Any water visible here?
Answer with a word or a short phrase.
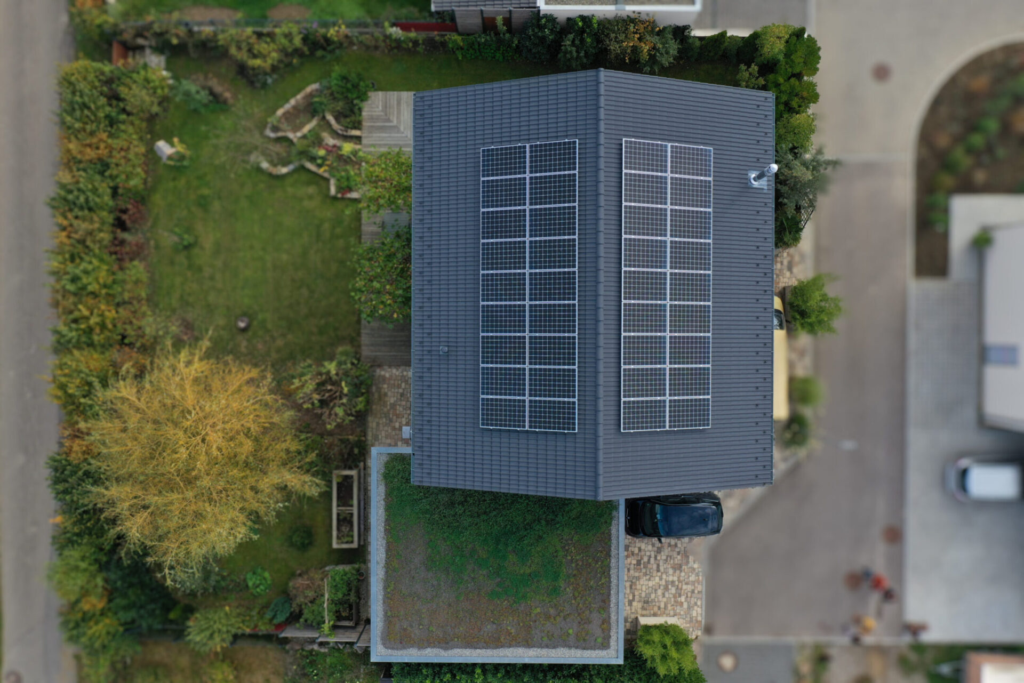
No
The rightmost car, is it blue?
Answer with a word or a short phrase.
No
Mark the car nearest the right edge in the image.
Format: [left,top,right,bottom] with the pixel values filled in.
[944,454,1024,508]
